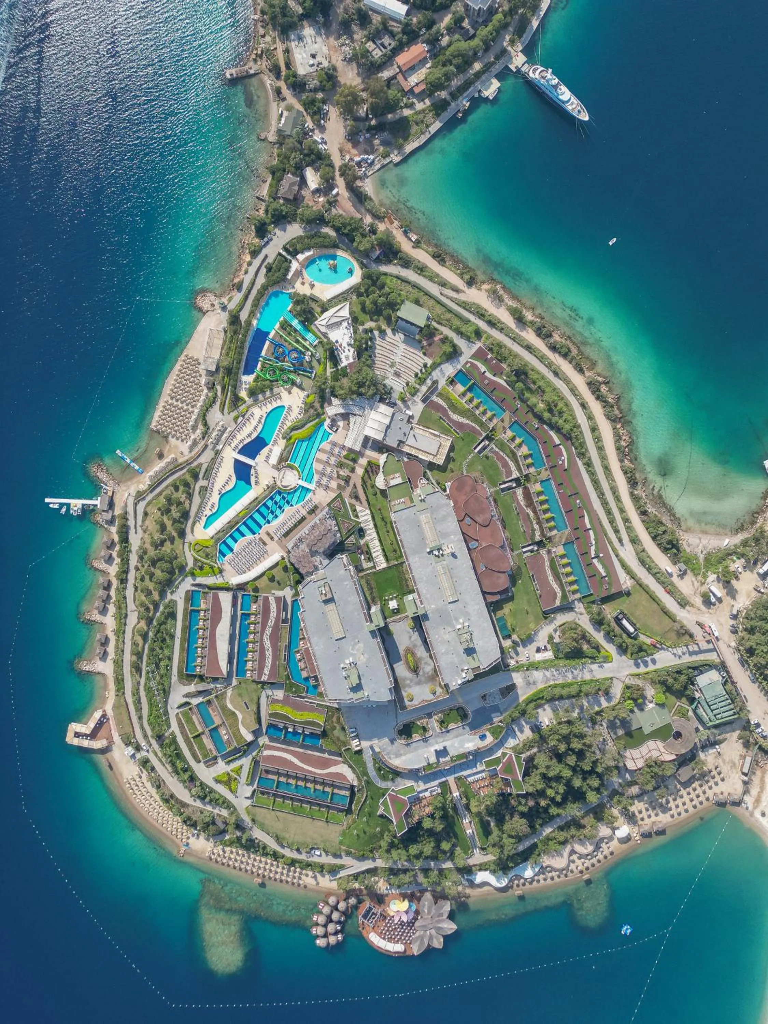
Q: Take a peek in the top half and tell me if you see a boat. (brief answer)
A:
Yes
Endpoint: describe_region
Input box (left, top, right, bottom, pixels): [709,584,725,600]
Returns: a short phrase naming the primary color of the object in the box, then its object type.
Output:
white vehicle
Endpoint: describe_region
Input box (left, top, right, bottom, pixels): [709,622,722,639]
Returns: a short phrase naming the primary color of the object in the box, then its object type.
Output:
white vehicle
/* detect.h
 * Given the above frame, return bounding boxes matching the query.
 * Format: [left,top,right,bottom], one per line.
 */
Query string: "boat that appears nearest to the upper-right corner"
[511,65,589,123]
